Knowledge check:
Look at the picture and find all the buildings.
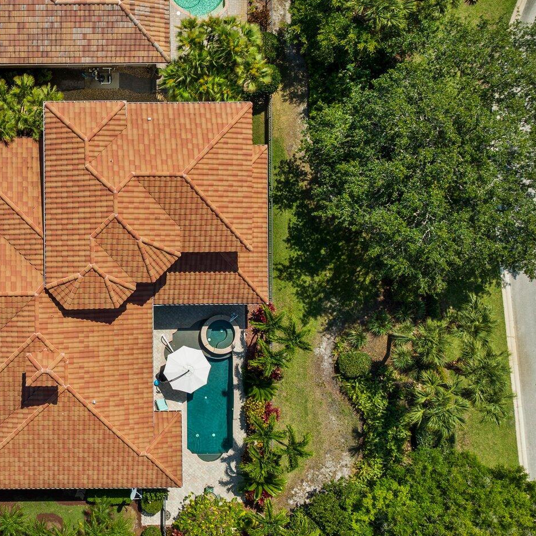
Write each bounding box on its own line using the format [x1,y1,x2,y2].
[0,99,270,491]
[0,0,171,73]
